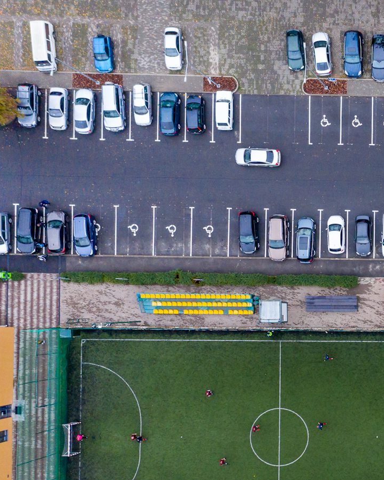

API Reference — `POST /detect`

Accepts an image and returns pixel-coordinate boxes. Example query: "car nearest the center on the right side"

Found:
[238,210,261,254]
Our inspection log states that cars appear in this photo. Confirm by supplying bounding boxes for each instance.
[101,81,127,131]
[89,32,116,73]
[238,210,261,254]
[237,146,282,167]
[294,217,318,264]
[16,207,44,254]
[73,214,98,257]
[341,30,365,79]
[267,214,290,261]
[157,92,182,136]
[213,91,236,131]
[310,33,334,77]
[46,87,71,131]
[162,27,185,71]
[0,212,13,254]
[71,89,98,135]
[14,83,43,128]
[325,215,347,254]
[352,215,373,257]
[370,35,384,83]
[131,83,154,127]
[183,95,207,134]
[285,30,307,72]
[45,210,71,254]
